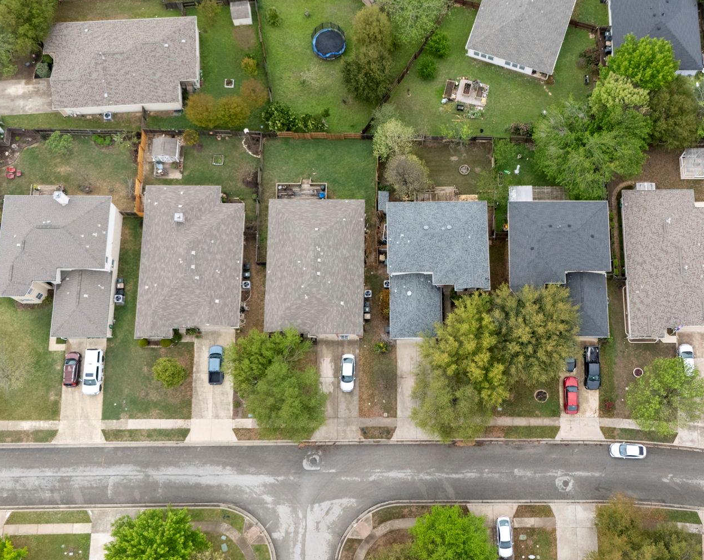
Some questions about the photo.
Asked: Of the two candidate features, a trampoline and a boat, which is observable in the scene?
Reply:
trampoline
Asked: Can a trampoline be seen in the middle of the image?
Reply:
No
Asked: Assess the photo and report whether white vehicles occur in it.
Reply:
Yes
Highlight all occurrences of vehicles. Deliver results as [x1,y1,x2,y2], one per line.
[496,515,514,559]
[583,344,603,391]
[680,343,700,380]
[338,354,357,393]
[608,441,648,459]
[563,376,581,416]
[206,345,224,386]
[81,349,103,395]
[62,349,83,389]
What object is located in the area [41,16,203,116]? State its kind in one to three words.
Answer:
house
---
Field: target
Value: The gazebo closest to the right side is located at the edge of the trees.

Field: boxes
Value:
[678,148,704,180]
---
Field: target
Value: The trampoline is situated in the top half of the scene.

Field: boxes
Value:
[311,22,344,58]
